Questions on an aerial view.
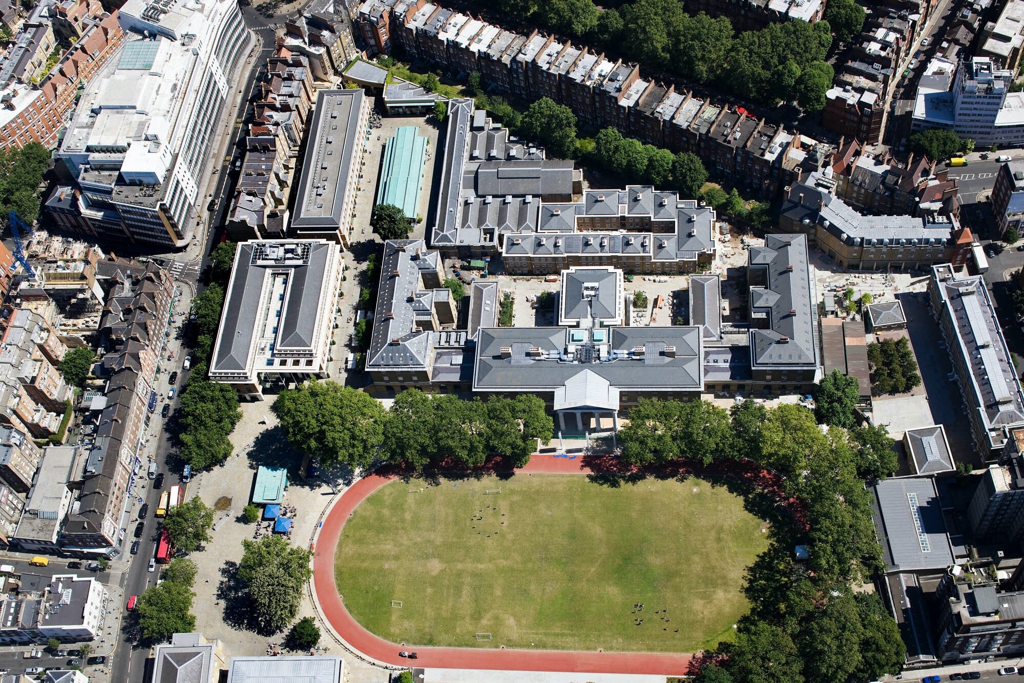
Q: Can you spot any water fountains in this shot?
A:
No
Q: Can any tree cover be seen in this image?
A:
Yes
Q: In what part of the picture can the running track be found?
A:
bottom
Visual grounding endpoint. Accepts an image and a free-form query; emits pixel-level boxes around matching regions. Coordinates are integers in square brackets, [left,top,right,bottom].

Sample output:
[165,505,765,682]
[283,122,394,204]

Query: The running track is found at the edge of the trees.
[311,453,829,677]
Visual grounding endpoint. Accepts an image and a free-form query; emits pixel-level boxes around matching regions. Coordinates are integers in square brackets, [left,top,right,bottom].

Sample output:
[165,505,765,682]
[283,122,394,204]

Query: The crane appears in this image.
[8,211,52,280]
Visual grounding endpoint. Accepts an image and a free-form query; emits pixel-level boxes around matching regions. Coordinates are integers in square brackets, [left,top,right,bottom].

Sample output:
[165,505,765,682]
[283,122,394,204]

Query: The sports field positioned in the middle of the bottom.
[334,473,808,653]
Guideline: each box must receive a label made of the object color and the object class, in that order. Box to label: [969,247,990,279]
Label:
white truck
